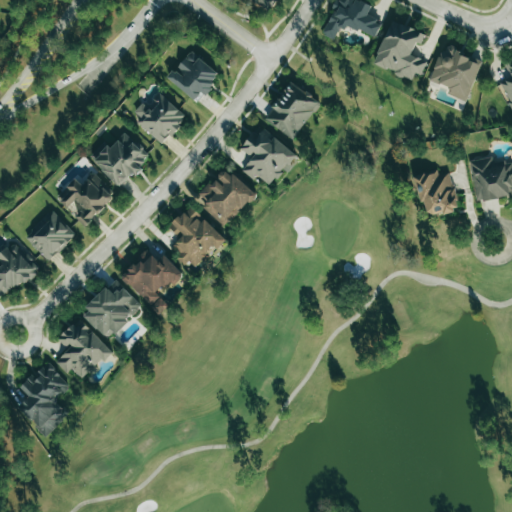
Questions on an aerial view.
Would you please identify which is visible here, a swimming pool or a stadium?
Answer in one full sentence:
This aerial view contains a swimming pool.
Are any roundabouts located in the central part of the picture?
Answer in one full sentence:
No, there is no roundabout in the central part of the picture.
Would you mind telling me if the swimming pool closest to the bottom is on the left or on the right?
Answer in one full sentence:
You can find the swimming pool closest to the bottom on the left side of the picture.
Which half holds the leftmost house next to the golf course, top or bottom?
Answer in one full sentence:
You can find the leftmost house next to the golf course in the bottom half.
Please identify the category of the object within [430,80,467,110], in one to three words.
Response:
swimming pool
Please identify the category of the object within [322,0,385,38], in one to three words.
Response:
house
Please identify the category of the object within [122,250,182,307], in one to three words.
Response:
house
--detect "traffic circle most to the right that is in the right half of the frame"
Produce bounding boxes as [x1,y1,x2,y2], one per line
[470,219,512,264]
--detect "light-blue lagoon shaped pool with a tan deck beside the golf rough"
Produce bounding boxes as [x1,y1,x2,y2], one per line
[92,354,118,386]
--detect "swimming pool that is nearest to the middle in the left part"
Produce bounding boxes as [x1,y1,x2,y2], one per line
[163,282,182,300]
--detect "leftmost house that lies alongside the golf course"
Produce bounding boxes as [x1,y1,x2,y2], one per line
[19,364,68,434]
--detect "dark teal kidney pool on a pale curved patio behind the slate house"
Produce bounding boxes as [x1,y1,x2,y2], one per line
[337,28,370,46]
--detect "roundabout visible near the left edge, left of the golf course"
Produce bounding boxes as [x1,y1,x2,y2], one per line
[0,308,42,358]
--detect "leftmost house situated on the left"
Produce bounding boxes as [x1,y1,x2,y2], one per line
[0,241,38,291]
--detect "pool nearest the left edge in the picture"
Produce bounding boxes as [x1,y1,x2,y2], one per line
[56,156,99,194]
